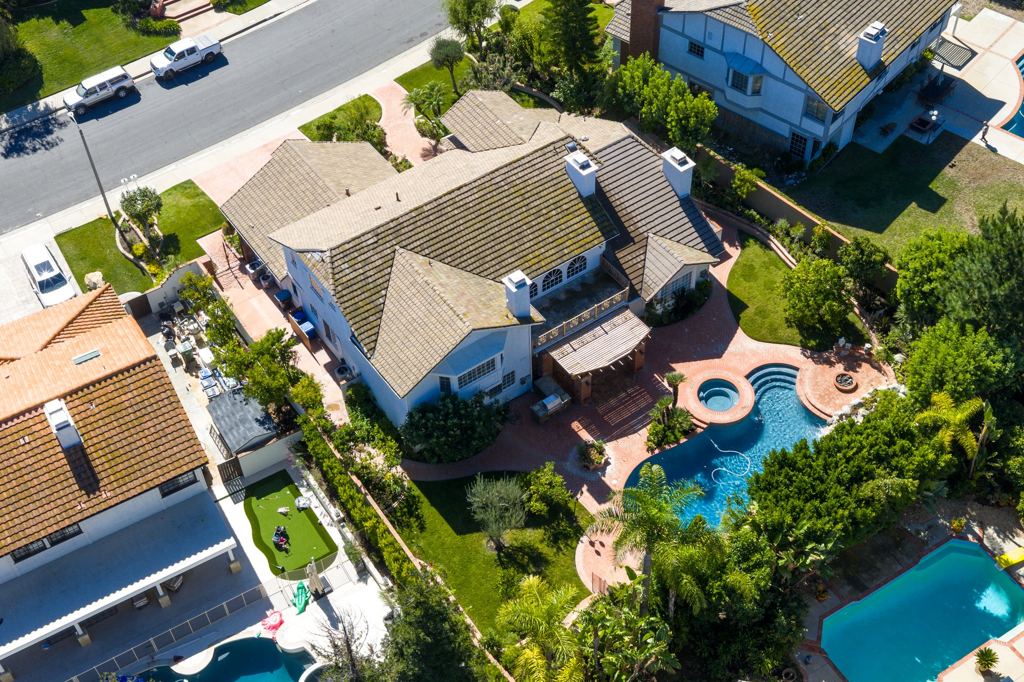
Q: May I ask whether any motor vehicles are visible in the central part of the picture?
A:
No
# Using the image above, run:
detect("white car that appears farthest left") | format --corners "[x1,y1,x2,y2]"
[21,245,75,307]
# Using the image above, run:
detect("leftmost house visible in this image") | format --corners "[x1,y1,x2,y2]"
[0,281,210,585]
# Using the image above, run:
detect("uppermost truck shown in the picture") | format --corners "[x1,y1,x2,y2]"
[144,31,222,80]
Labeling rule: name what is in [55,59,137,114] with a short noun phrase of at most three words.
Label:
truck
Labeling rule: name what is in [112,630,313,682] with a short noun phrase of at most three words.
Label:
swimming pool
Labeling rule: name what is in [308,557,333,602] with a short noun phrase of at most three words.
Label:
umbrella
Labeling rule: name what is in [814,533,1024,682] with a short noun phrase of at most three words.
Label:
swimming pool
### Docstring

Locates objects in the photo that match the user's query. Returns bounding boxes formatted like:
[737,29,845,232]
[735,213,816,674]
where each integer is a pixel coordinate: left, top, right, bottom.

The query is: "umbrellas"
[308,557,333,602]
[936,60,945,86]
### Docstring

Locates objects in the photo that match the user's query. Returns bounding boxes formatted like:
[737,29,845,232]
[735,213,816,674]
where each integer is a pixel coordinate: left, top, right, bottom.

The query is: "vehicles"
[55,59,137,114]
[144,31,222,80]
[21,245,75,307]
